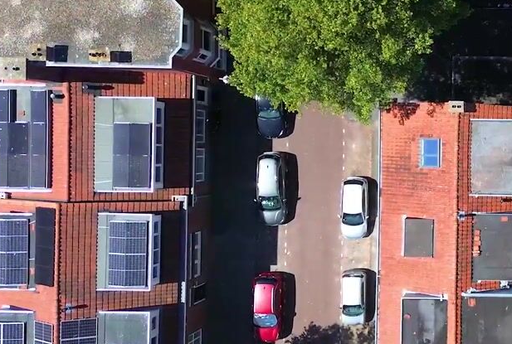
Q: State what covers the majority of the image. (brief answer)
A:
buildings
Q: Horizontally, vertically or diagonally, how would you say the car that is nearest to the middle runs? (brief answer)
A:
vertically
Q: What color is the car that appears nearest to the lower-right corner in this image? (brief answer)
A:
white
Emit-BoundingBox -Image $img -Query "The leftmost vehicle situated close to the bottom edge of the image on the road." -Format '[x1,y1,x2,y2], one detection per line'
[249,273,284,340]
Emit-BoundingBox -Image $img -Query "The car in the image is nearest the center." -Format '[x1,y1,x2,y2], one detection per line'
[252,153,286,223]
